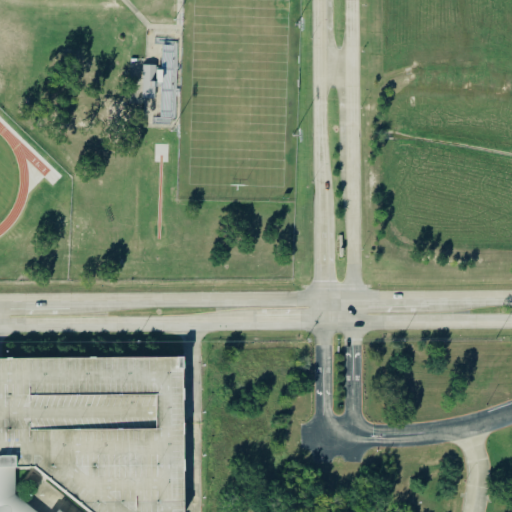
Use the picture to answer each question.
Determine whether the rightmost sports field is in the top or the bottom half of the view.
top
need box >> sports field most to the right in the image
[184,0,294,192]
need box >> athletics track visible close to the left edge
[0,118,67,234]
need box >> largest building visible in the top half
[143,64,156,101]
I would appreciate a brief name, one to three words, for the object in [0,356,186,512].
building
